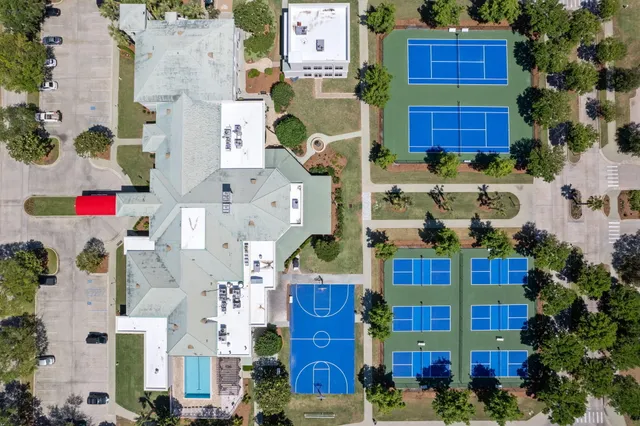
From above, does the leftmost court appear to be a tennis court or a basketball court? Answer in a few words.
basketball court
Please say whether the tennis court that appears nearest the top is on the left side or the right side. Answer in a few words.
right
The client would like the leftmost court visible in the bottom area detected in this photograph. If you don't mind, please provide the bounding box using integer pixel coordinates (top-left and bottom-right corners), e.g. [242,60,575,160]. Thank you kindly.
[290,284,355,395]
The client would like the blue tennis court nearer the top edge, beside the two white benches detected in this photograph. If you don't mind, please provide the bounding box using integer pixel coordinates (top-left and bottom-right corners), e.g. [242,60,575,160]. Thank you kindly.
[408,34,508,89]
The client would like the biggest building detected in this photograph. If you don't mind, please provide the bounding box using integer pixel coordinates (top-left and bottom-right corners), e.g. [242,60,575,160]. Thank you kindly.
[116,4,331,391]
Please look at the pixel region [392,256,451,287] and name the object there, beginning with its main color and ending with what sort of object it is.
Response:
blue sports court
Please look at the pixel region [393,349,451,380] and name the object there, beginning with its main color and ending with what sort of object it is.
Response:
blue sports court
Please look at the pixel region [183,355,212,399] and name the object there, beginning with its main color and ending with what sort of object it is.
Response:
blue swimming pool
